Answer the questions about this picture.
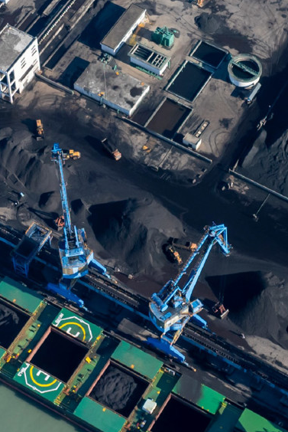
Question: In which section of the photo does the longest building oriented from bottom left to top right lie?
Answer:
top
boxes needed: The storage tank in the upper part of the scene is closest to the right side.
[231,59,261,101]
